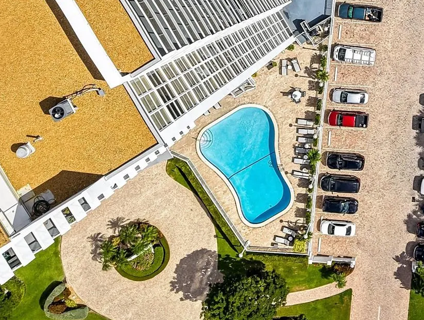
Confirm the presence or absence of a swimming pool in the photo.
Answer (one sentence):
Yes, there's a swimming pool down there.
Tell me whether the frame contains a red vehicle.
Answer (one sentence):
Yes, looking at the shot, I can spot a red vehicle.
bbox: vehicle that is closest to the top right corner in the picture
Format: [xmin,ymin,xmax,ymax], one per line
[337,2,384,21]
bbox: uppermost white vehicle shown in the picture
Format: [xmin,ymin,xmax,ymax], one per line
[332,46,377,65]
